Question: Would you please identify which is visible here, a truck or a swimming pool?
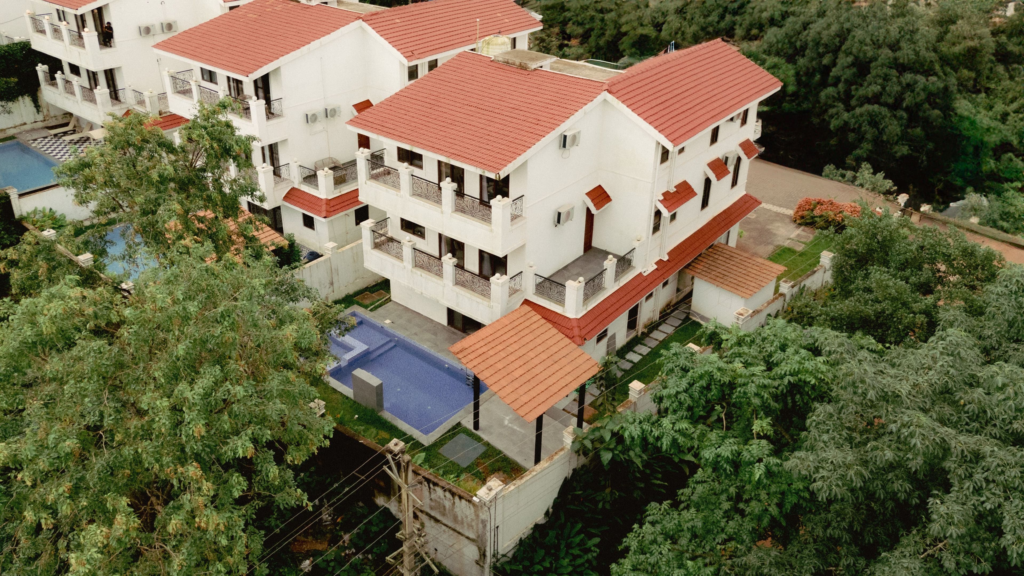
swimming pool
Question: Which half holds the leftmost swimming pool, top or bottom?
top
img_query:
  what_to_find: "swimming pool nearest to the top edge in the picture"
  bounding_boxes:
[0,136,81,207]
